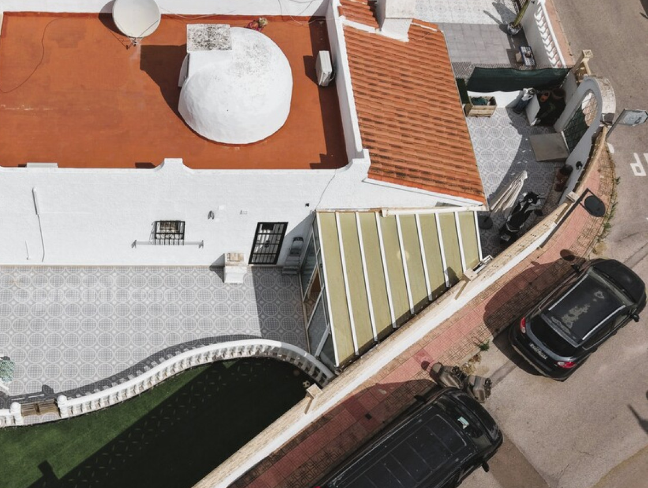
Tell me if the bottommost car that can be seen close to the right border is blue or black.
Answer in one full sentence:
The bottommost car that can be seen close to the right border looks black in the image.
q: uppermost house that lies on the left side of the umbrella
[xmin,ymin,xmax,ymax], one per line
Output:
[0,0,490,265]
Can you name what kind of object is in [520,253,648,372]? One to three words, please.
car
